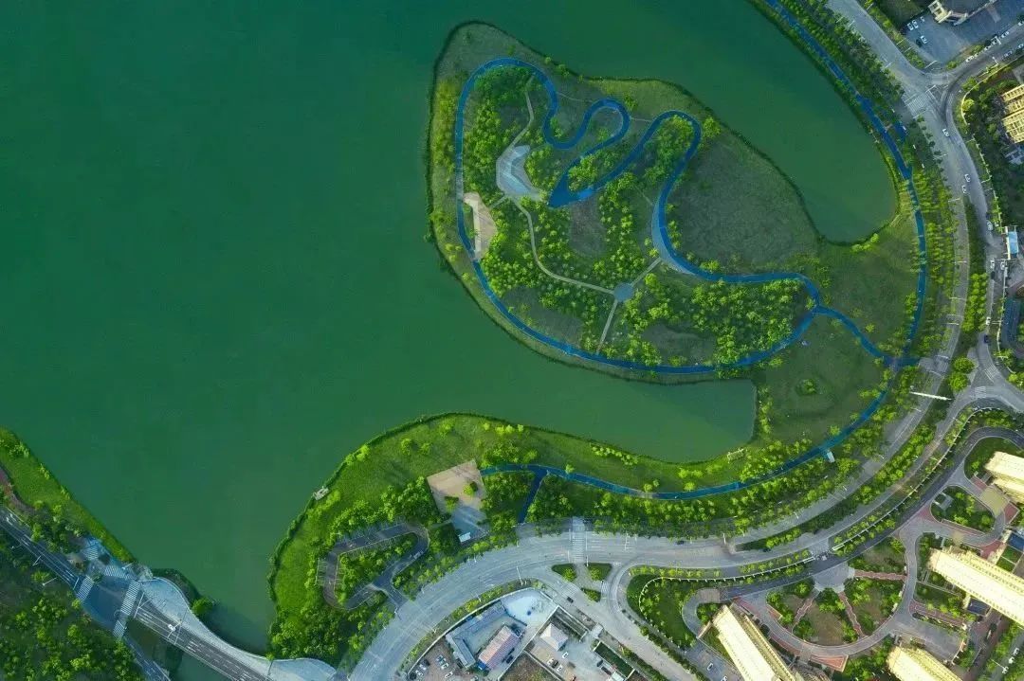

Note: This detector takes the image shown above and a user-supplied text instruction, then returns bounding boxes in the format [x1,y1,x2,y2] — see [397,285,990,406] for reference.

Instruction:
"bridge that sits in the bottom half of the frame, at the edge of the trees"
[133,576,344,681]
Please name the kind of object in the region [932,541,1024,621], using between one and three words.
building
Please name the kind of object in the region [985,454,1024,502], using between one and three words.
building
